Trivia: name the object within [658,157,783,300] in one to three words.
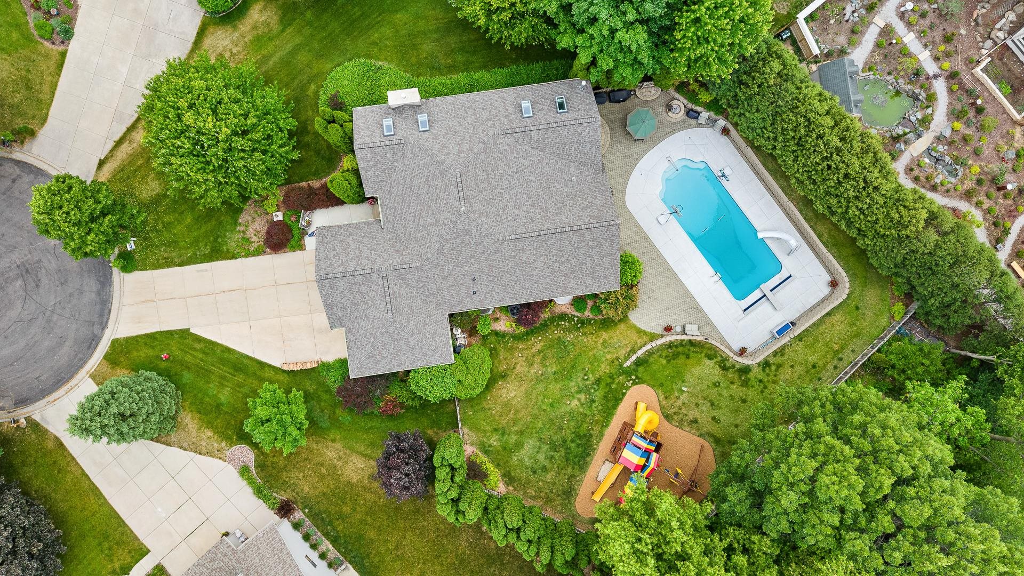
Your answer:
swimming pool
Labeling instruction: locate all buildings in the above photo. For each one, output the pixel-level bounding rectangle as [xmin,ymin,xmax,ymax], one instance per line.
[816,58,866,113]
[314,77,621,378]
[177,514,342,576]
